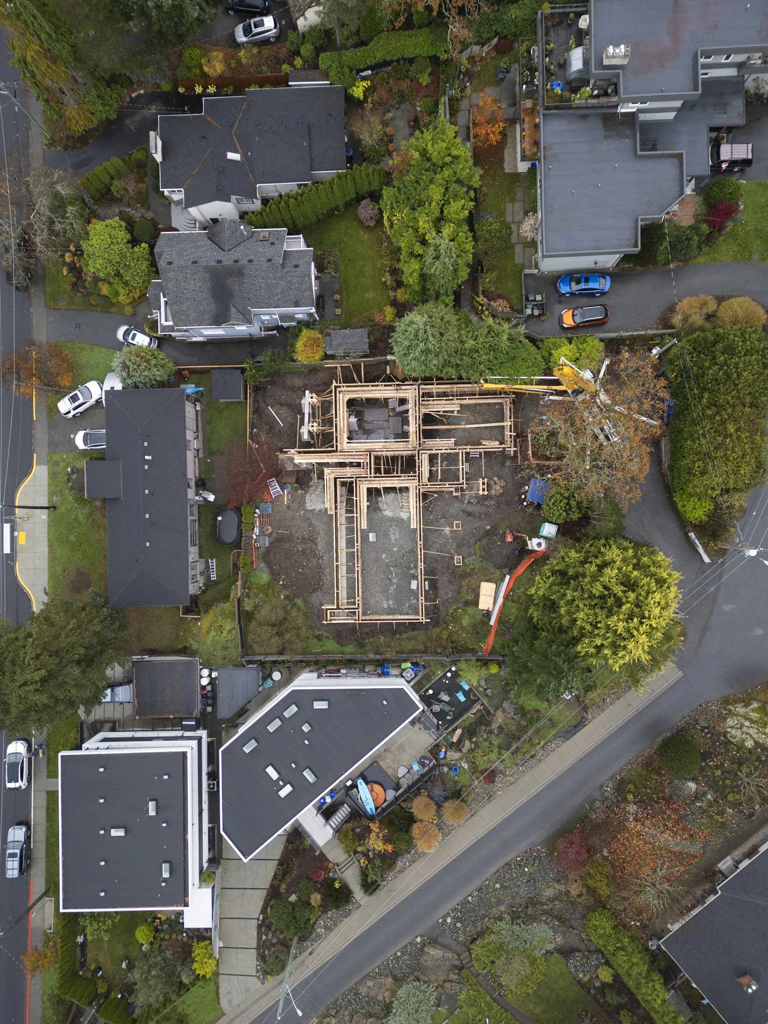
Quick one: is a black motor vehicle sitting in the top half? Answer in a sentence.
Yes, a black motor vehicle appears in the top half.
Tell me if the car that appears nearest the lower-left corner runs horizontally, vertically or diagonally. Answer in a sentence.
The car that appears nearest the lower-left corner has been laid out vertically relative to the frame.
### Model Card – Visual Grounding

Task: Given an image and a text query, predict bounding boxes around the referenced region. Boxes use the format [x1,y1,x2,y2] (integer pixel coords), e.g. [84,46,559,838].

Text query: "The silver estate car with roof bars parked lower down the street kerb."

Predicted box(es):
[4,819,34,880]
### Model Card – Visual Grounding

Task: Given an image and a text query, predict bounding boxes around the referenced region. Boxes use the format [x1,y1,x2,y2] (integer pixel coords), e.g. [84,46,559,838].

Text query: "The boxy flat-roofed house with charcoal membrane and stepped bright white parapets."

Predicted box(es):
[59,721,218,928]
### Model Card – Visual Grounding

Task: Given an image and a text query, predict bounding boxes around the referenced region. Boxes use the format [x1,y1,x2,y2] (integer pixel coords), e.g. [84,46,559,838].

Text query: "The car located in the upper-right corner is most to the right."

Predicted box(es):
[709,143,757,173]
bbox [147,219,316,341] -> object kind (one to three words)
house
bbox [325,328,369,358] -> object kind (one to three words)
shed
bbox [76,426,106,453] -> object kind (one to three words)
car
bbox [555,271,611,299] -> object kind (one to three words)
car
